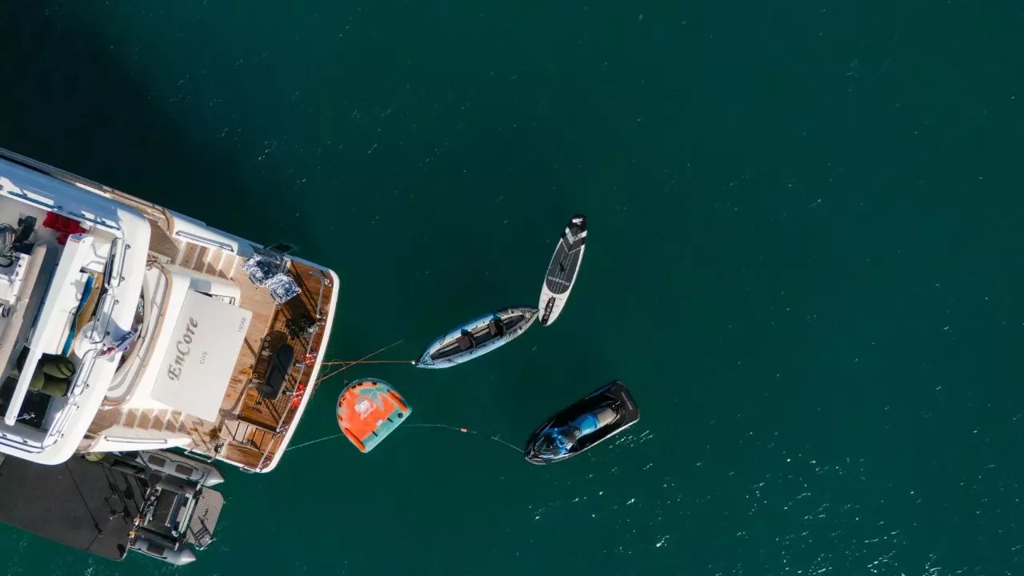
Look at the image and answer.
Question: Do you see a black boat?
Yes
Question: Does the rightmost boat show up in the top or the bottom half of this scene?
bottom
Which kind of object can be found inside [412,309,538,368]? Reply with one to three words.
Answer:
boat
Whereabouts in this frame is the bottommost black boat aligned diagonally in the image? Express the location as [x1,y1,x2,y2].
[529,385,638,467]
